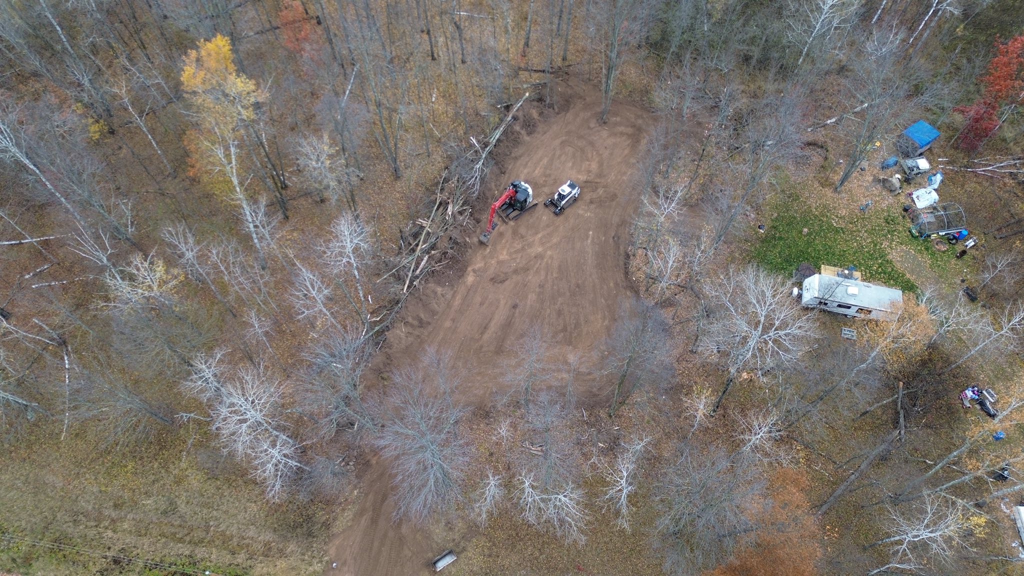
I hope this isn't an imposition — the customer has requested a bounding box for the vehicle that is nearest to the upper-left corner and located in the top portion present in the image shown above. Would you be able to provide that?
[478,182,536,246]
